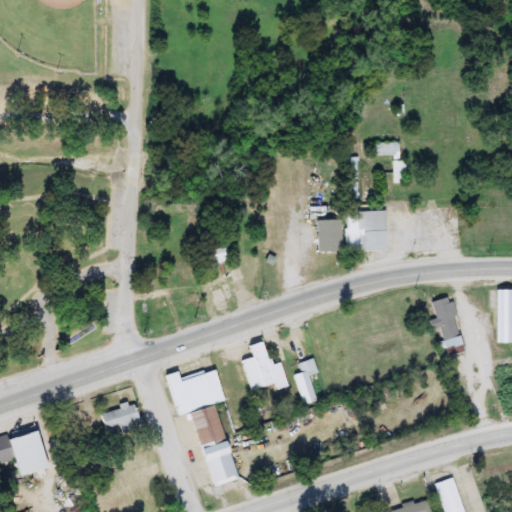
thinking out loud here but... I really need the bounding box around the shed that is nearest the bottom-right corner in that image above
[436,478,466,512]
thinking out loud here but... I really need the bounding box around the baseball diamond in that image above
[0,0,98,76]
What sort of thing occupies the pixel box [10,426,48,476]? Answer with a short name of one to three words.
building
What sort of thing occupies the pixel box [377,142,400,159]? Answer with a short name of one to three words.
shed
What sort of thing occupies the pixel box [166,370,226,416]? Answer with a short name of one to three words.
building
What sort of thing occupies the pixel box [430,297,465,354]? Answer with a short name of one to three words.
house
